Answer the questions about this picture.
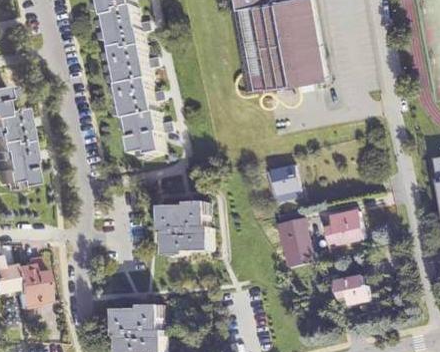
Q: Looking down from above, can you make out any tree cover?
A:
Yes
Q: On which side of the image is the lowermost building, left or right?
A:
left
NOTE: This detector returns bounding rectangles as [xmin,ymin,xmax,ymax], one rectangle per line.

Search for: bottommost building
[107,304,173,352]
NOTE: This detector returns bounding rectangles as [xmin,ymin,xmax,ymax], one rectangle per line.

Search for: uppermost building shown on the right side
[233,0,331,96]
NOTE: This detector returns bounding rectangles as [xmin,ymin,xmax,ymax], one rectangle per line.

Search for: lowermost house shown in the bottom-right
[333,275,372,308]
